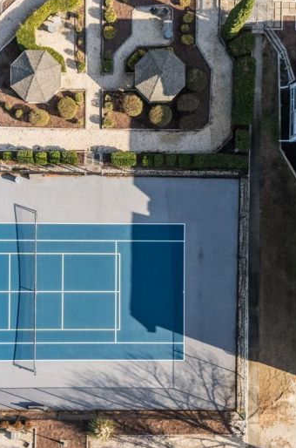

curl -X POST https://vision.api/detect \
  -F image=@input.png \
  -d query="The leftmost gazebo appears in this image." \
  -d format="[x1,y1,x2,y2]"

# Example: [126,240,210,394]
[9,49,63,105]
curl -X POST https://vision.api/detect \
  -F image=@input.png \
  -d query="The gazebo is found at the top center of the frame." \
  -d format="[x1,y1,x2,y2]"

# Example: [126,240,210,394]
[133,48,187,105]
